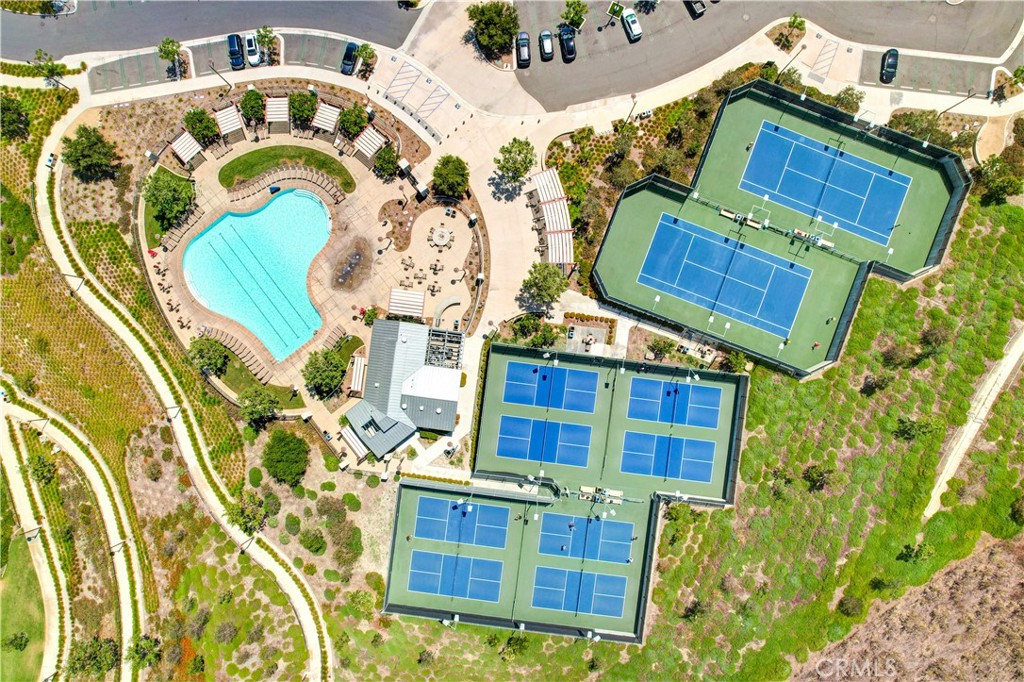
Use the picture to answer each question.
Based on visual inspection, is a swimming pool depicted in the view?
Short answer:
Yes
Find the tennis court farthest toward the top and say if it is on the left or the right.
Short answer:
right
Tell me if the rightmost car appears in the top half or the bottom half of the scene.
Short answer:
top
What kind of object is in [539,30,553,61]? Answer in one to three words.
car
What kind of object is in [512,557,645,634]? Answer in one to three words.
sports court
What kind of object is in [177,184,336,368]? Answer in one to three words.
swimming pool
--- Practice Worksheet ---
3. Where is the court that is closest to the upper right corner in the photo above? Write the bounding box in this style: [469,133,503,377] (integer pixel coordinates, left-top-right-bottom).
[688,88,957,273]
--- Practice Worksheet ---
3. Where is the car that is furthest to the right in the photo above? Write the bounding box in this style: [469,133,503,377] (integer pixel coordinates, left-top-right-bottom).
[878,48,898,83]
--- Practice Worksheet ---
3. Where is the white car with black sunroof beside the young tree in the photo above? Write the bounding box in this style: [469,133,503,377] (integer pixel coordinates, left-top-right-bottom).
[242,34,261,67]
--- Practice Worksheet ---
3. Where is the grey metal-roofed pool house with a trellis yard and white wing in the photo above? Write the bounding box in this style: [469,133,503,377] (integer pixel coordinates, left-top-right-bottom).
[345,320,466,458]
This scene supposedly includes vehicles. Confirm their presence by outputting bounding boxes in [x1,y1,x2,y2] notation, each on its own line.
[340,42,358,75]
[622,9,644,43]
[686,0,710,19]
[878,48,898,83]
[515,33,531,67]
[559,28,576,64]
[226,34,248,71]
[539,30,553,61]
[242,34,261,67]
